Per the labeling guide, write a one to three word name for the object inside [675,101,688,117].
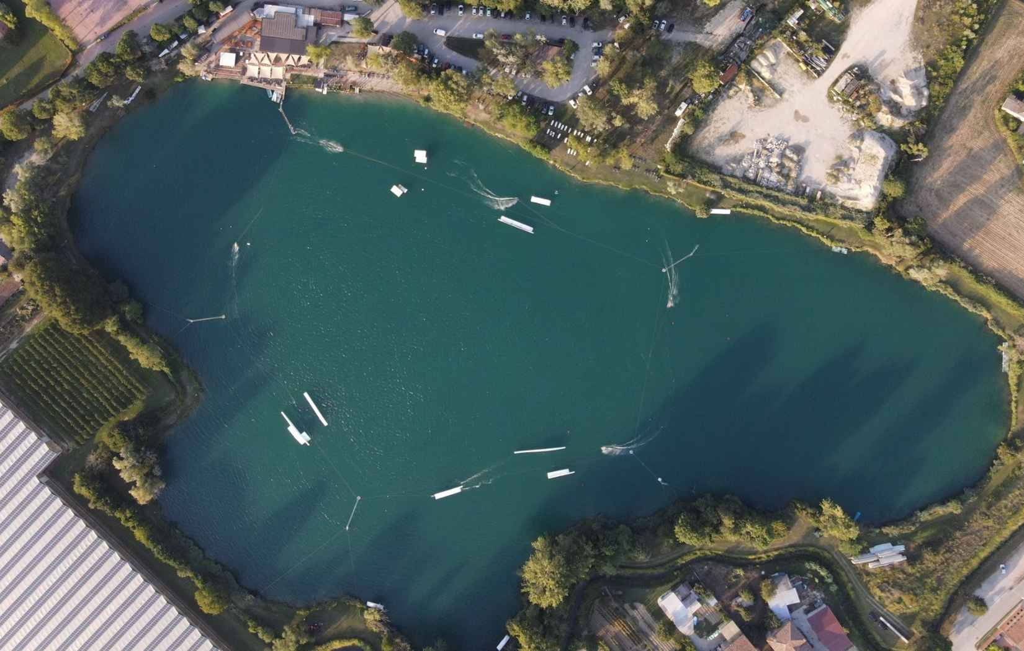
vehicle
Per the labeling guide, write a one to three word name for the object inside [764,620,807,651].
house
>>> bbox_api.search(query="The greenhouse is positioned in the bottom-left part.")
[0,392,228,651]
